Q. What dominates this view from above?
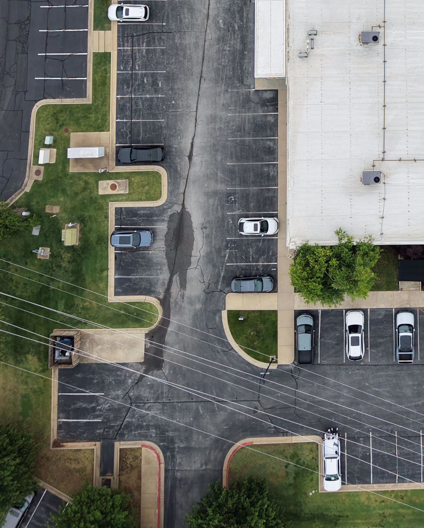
paved ground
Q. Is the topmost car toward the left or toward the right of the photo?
left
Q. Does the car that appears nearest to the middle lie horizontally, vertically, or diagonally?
horizontally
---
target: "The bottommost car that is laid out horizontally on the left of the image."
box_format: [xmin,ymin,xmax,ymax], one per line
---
[110,229,155,250]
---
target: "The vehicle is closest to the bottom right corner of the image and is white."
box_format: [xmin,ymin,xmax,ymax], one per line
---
[321,429,343,493]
